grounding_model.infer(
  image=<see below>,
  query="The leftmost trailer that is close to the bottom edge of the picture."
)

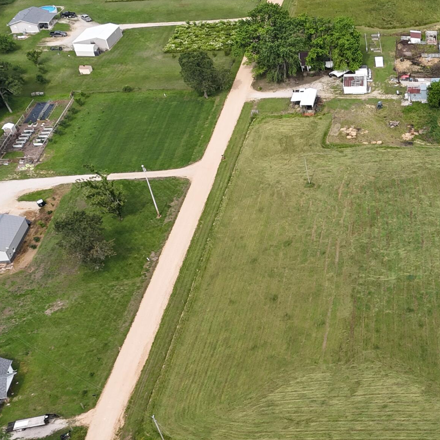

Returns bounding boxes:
[0,412,63,437]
